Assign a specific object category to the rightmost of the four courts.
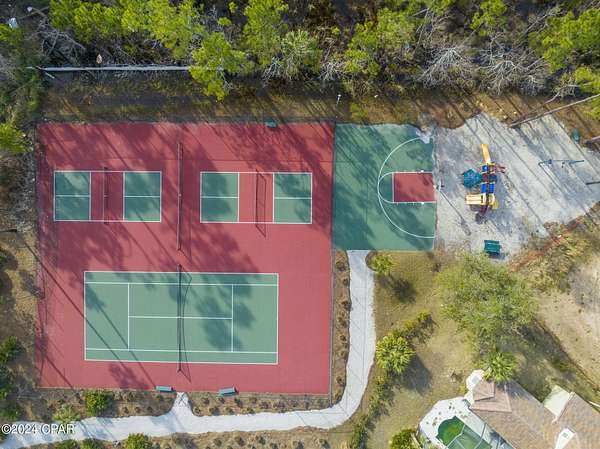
basketball court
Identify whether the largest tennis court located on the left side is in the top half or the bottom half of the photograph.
bottom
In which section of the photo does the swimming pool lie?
bottom right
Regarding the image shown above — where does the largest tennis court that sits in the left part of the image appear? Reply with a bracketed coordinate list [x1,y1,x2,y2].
[84,271,278,365]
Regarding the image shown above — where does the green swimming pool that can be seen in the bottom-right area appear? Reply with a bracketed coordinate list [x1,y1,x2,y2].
[437,416,495,449]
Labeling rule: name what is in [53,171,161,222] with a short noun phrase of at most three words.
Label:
sports court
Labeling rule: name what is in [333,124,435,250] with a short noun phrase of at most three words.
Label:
basketball court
